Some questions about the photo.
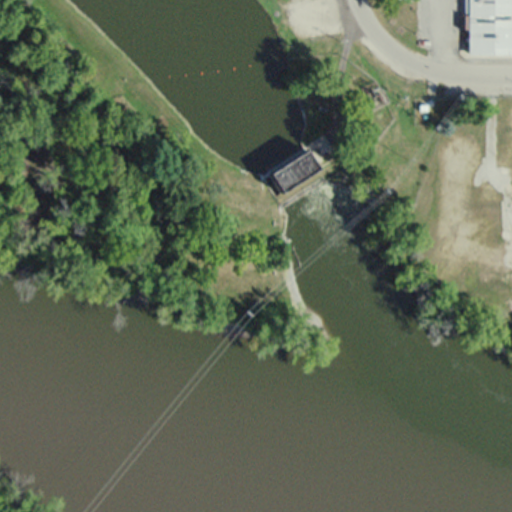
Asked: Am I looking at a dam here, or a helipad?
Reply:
dam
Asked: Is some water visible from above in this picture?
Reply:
Yes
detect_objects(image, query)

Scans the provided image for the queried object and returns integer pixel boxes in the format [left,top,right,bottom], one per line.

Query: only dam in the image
[259,136,336,208]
